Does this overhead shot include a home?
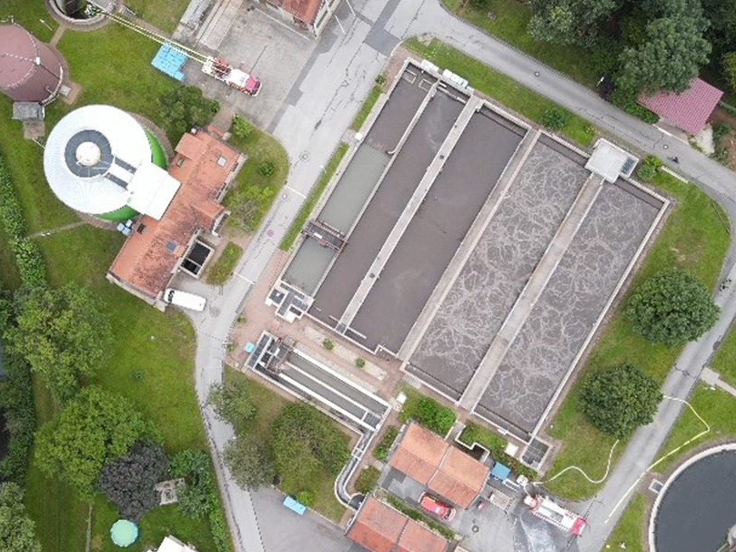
Yes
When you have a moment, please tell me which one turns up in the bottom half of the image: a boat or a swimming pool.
swimming pool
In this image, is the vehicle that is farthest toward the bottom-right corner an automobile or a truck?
truck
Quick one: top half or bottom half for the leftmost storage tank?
top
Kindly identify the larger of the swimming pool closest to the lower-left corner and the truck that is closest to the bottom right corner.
the truck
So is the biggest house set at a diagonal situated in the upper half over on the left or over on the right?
left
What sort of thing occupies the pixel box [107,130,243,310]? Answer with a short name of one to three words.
house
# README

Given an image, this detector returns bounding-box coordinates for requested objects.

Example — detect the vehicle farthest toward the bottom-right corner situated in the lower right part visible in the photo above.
[519,491,594,543]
